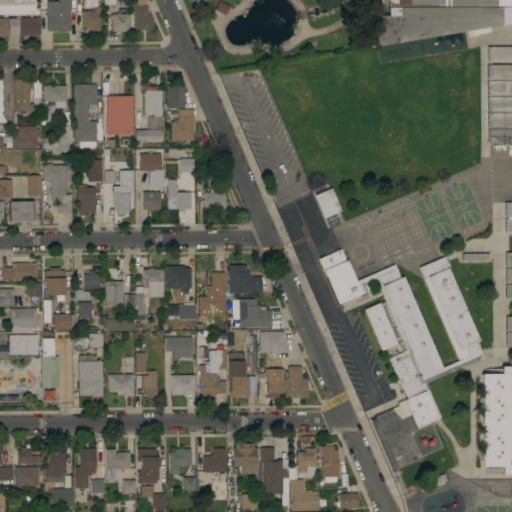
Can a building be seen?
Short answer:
Yes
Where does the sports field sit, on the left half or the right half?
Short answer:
right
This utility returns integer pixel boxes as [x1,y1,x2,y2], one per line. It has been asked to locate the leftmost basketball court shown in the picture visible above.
[414,192,456,242]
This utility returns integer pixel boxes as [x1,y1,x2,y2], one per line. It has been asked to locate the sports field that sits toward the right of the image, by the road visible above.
[262,47,480,223]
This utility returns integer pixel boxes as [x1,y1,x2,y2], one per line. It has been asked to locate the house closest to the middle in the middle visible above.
[230,265,262,293]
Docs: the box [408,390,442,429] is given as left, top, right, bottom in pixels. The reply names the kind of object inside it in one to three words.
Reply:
building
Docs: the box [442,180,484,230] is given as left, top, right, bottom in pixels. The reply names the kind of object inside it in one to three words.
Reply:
basketball court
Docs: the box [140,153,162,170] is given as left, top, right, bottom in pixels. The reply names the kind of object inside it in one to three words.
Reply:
house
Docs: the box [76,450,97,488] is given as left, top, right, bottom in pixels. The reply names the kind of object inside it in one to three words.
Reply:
house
